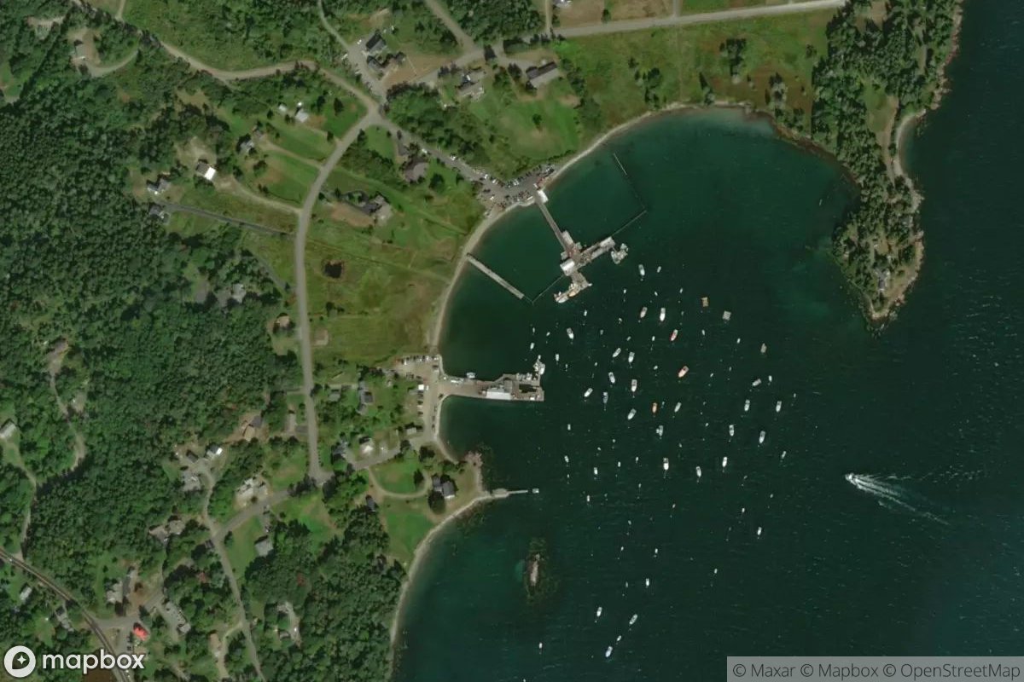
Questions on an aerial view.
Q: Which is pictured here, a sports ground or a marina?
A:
marina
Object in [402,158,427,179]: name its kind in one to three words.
house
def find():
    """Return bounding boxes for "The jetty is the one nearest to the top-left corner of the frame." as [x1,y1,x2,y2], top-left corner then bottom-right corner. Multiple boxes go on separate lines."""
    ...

[466,254,525,299]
